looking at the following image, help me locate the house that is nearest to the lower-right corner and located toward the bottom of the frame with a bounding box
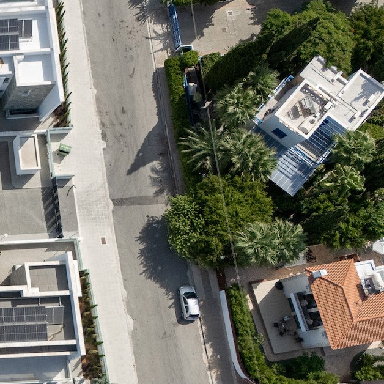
[267,258,384,350]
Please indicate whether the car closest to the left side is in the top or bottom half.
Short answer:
bottom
